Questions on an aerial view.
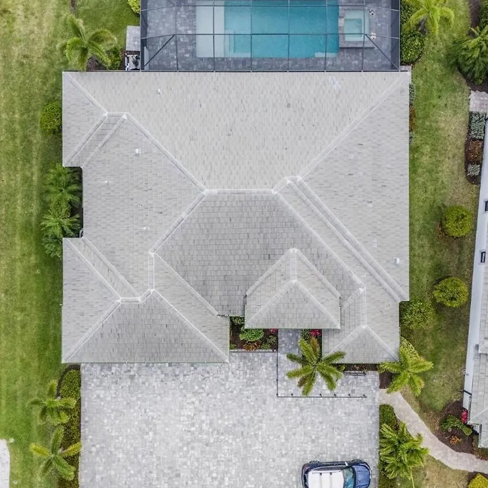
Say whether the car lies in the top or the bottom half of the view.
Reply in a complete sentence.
You can find the car in the bottom half.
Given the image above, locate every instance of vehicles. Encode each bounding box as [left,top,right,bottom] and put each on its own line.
[302,457,372,488]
